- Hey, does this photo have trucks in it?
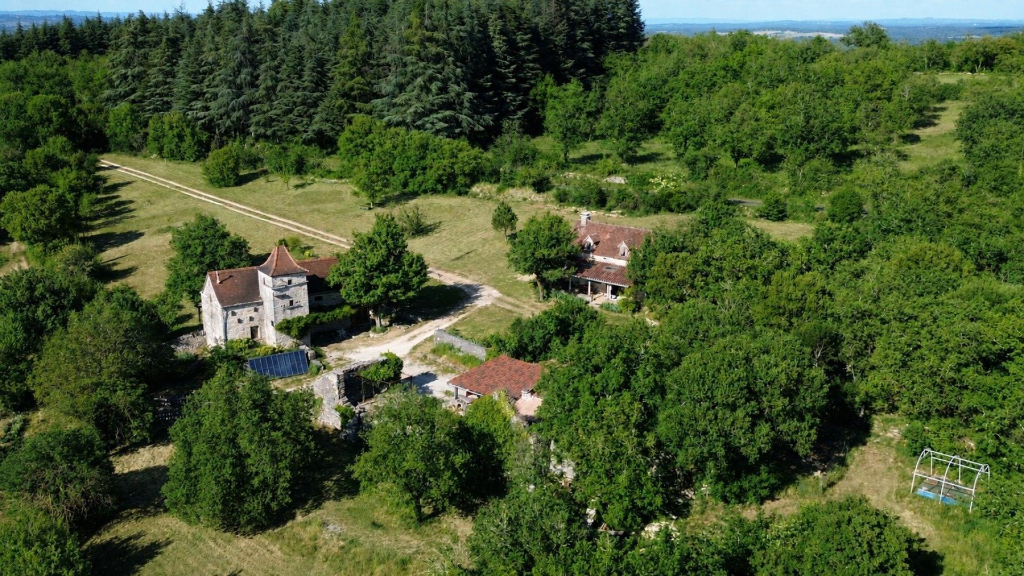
No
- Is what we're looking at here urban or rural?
rural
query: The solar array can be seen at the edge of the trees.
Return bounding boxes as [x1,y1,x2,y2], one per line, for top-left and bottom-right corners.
[255,347,310,381]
